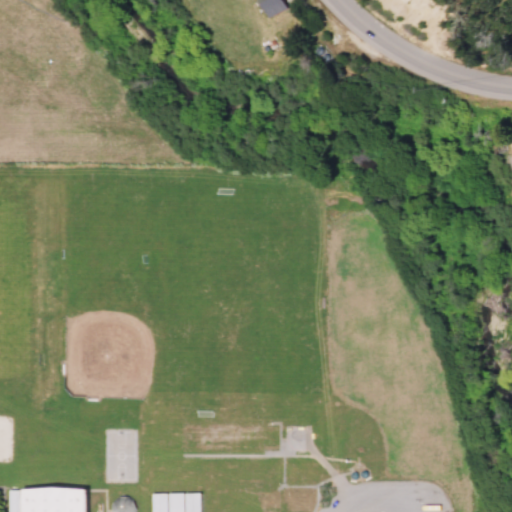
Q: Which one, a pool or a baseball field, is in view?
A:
baseball field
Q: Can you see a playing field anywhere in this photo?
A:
Yes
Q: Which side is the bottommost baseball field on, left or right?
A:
left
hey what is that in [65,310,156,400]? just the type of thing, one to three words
baseball field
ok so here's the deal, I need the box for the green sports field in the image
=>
[65,178,328,401]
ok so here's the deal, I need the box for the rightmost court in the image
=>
[106,429,138,482]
